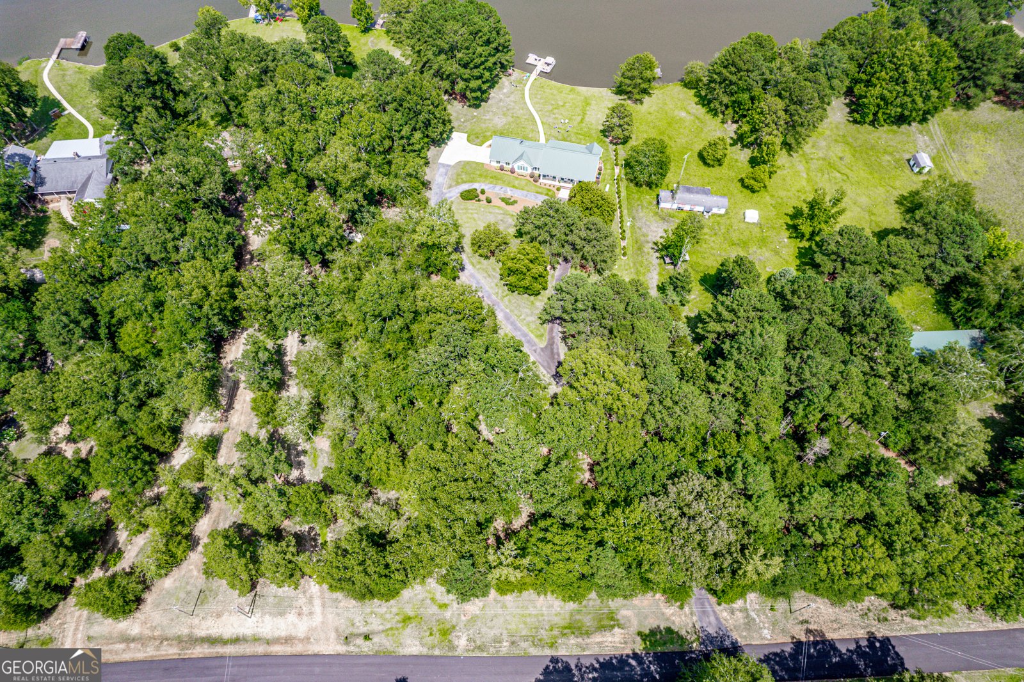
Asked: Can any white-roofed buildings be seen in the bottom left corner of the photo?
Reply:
No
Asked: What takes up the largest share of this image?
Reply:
trees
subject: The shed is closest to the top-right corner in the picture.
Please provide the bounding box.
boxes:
[909,152,933,173]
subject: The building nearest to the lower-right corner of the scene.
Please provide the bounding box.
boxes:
[899,326,982,358]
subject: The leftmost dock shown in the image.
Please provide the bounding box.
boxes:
[51,32,97,60]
